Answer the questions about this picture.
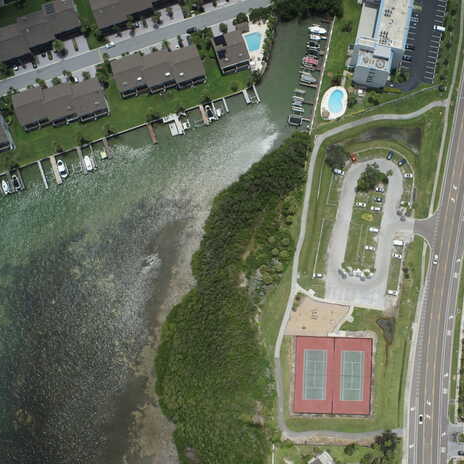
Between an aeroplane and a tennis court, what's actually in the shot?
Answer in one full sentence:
The one in the frame is a tennis court.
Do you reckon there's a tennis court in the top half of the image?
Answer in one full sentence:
No, I see no tennis court in the top half of the image.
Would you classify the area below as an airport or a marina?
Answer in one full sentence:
The area seen from above is a marina.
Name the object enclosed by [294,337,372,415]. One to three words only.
tennis court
